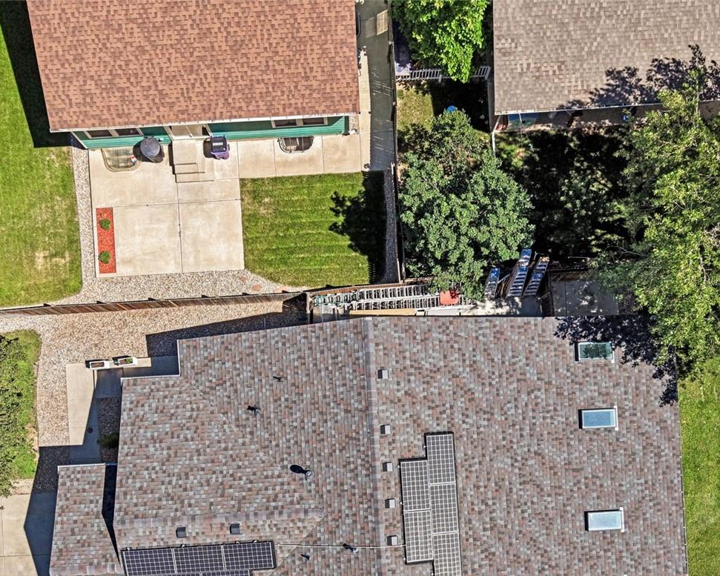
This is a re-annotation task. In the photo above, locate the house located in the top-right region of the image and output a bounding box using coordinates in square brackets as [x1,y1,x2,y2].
[483,0,720,140]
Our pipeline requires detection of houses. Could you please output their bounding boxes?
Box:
[30,0,358,147]
[51,313,691,576]
[483,0,720,140]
